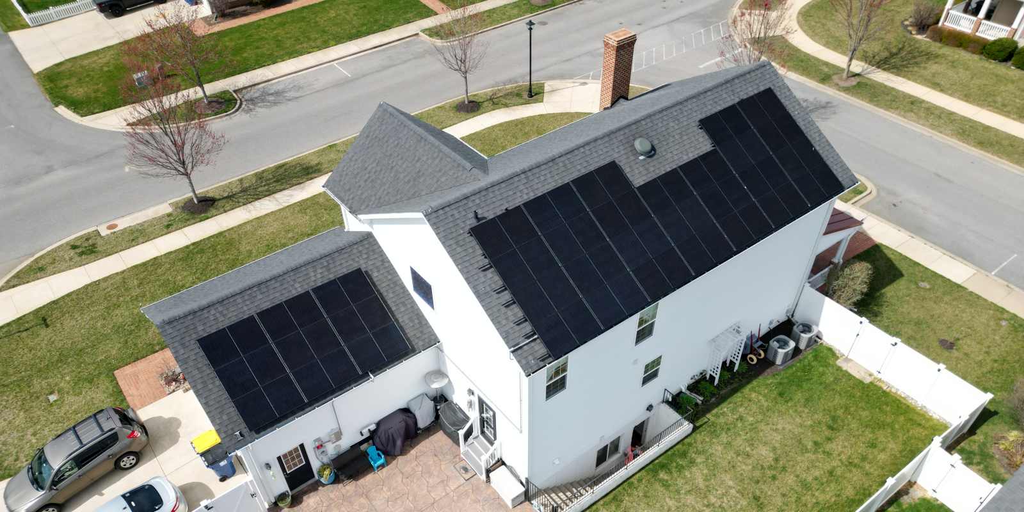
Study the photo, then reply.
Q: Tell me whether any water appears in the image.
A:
No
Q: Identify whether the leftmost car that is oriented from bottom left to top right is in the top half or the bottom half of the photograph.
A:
bottom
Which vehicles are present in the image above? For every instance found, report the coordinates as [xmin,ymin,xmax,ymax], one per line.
[93,0,170,14]
[73,474,188,512]
[0,402,154,512]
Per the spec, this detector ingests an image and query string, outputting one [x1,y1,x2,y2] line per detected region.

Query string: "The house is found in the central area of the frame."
[141,34,860,506]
